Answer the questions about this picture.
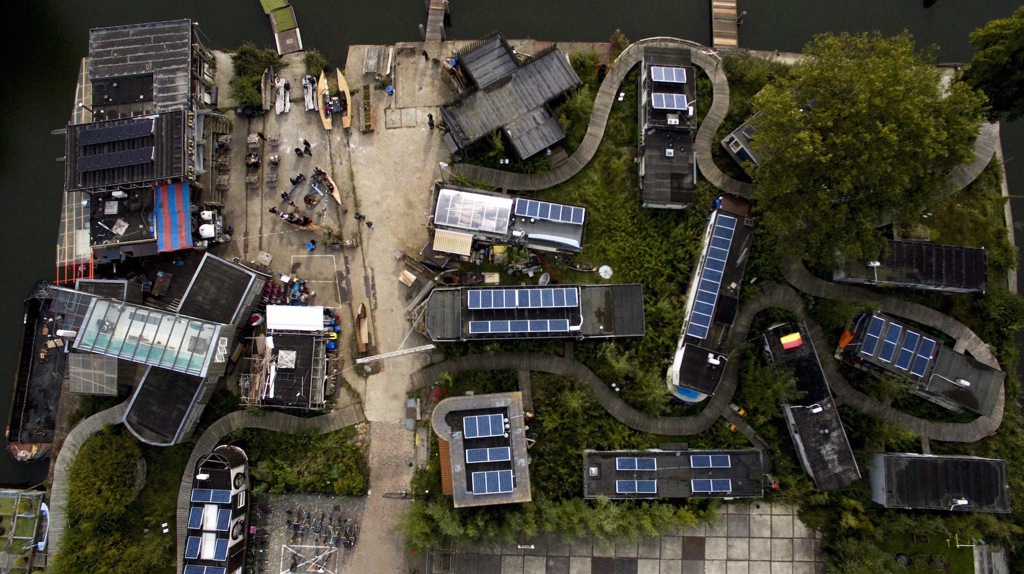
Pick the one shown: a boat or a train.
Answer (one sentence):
I can see a boat in this picture.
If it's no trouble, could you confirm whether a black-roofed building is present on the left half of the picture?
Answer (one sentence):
Yes, on the left half of the picture there is a black-roofed building.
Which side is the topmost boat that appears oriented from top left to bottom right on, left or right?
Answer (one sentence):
The topmost boat that appears oriented from top left to bottom right appears in the left half of the scene.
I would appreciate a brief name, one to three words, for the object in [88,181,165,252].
building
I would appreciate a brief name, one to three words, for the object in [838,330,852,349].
boat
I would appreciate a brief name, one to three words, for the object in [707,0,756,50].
pier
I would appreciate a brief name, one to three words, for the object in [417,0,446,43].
pier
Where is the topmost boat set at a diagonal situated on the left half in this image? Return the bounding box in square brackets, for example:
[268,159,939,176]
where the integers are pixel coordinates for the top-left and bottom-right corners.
[318,169,341,204]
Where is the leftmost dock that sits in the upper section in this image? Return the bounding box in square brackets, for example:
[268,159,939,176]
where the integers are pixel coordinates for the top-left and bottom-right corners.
[261,0,303,55]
